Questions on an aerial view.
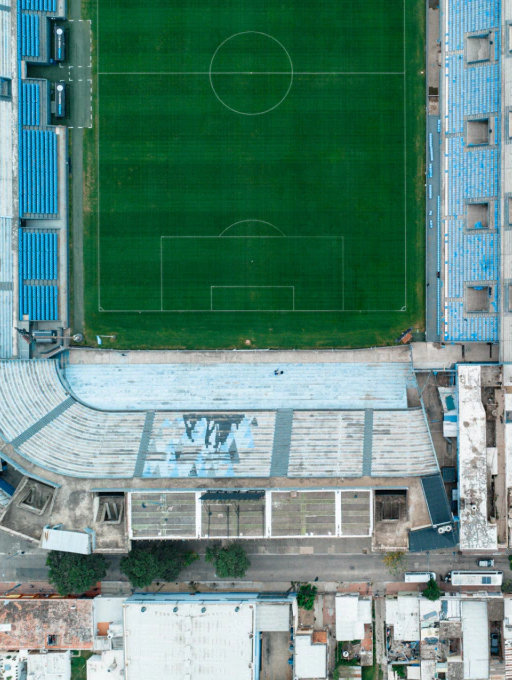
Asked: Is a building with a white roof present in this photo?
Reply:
Yes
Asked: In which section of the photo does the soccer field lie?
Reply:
top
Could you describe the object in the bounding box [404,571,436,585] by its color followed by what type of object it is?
white vehicle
